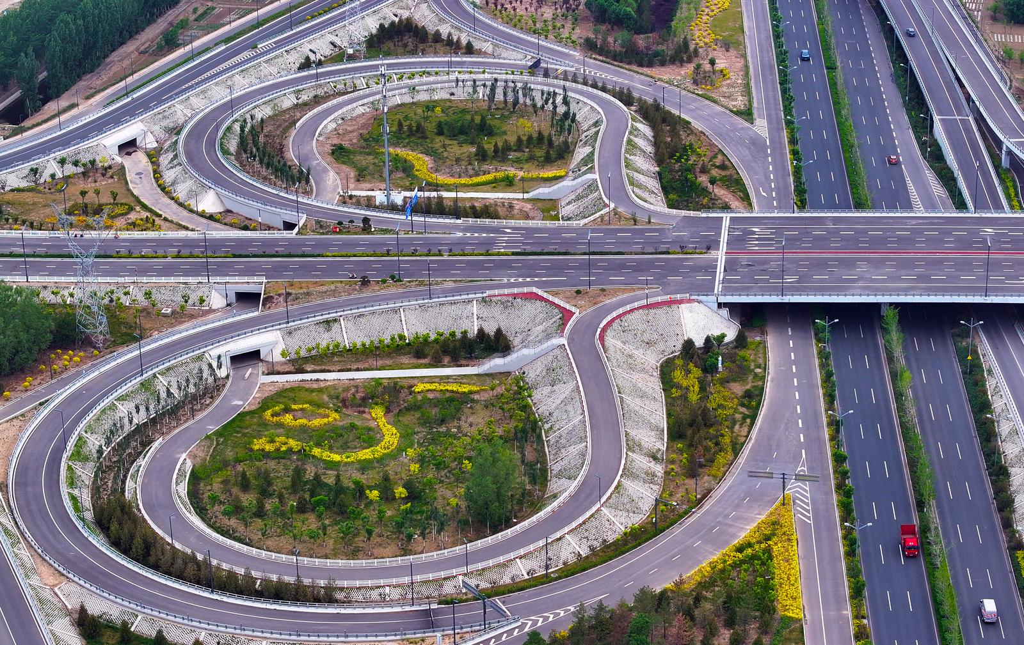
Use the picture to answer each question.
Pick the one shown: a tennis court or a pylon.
pylon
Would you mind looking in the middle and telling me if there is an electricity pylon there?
No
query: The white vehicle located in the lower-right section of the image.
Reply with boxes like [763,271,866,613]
[981,601,997,622]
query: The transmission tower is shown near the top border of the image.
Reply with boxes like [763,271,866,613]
[342,0,369,60]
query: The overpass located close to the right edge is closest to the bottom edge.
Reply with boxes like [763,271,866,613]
[718,216,1024,325]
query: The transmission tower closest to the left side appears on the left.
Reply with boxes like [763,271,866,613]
[43,196,113,348]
